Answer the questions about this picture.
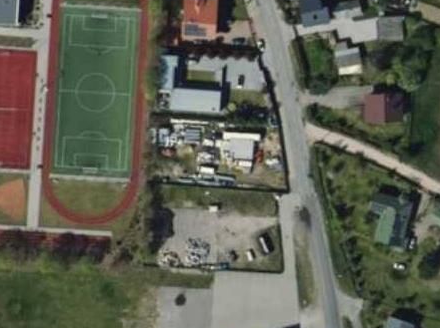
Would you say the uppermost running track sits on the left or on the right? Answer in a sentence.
You can find the uppermost running track on the left side of the picture.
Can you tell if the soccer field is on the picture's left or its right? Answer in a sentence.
The soccer field appears in the left half of the scene.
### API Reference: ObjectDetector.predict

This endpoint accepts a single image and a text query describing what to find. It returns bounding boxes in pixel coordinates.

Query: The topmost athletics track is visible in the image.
[44,0,149,227]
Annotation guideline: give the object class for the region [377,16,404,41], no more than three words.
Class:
barn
